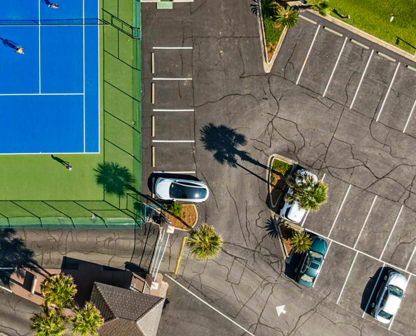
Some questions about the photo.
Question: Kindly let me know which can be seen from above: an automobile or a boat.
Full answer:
I can see an automobile in this picture.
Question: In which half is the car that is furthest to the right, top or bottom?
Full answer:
Seen from above, the car that is furthest to the right lies in the bottom half of the view.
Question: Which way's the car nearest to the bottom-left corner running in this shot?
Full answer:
The car nearest to the bottom-left corner runs from side to side in the image.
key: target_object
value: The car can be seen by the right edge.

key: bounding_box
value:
[372,269,407,323]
